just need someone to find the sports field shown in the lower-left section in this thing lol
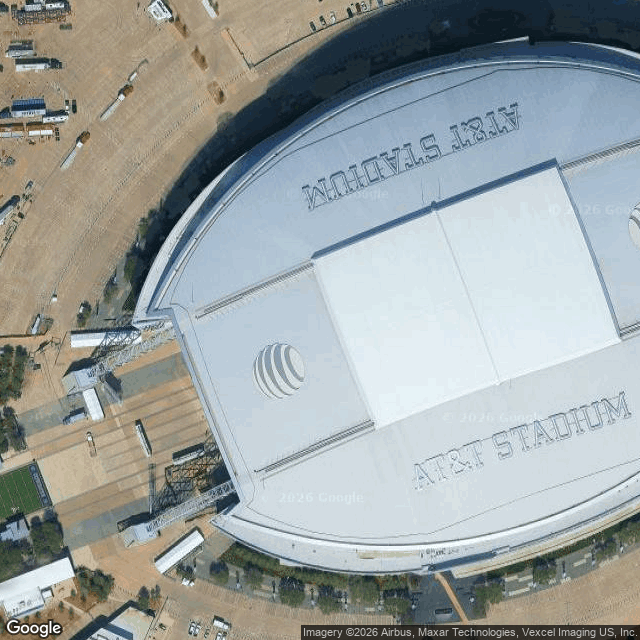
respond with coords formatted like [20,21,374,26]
[0,463,52,526]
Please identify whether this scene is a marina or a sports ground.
sports ground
